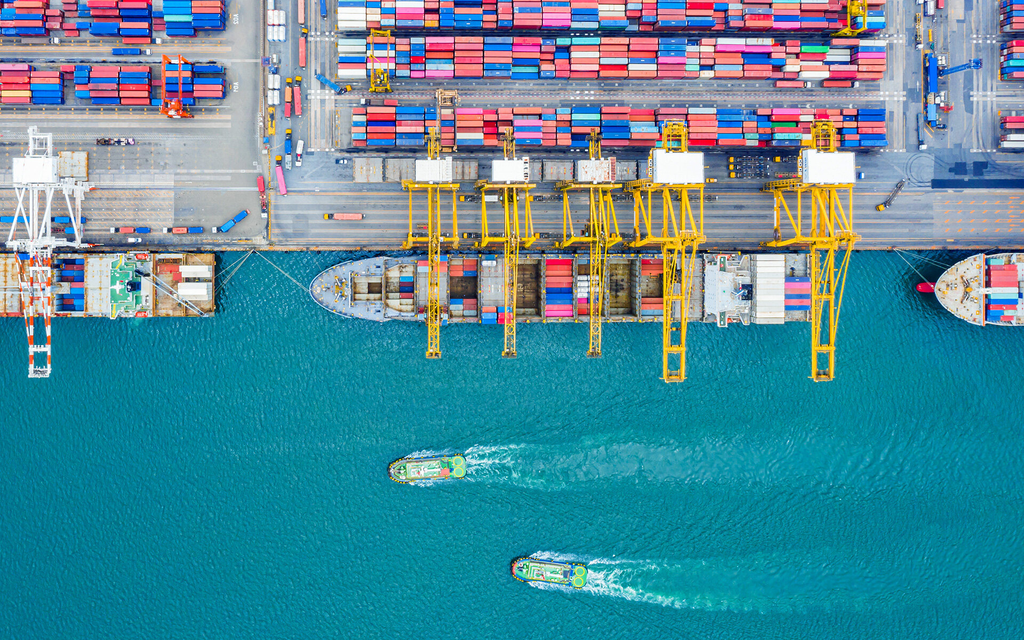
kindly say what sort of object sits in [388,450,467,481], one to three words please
boat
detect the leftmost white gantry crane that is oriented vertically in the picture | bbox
[5,125,97,377]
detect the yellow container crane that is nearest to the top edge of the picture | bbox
[828,0,869,37]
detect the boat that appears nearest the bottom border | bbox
[510,555,588,588]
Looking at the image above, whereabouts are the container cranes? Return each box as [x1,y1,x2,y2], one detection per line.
[620,123,705,380]
[366,24,395,94]
[828,0,869,37]
[431,93,460,157]
[550,126,625,359]
[5,125,97,377]
[471,126,539,359]
[398,126,464,360]
[754,122,863,379]
[162,53,196,121]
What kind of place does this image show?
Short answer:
port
